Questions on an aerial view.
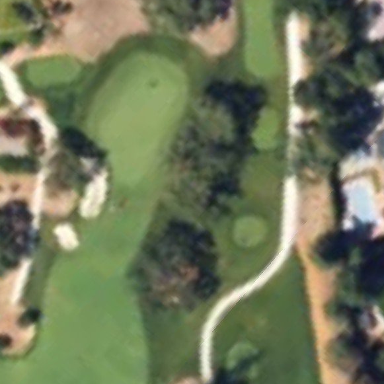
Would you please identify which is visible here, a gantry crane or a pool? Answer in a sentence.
The image shows a pool.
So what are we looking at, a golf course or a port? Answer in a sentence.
This image shows a golf course.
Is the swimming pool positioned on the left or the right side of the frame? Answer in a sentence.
You can find the swimming pool on the right side of the picture.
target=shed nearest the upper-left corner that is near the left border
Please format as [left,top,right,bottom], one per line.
[0,130,29,154]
